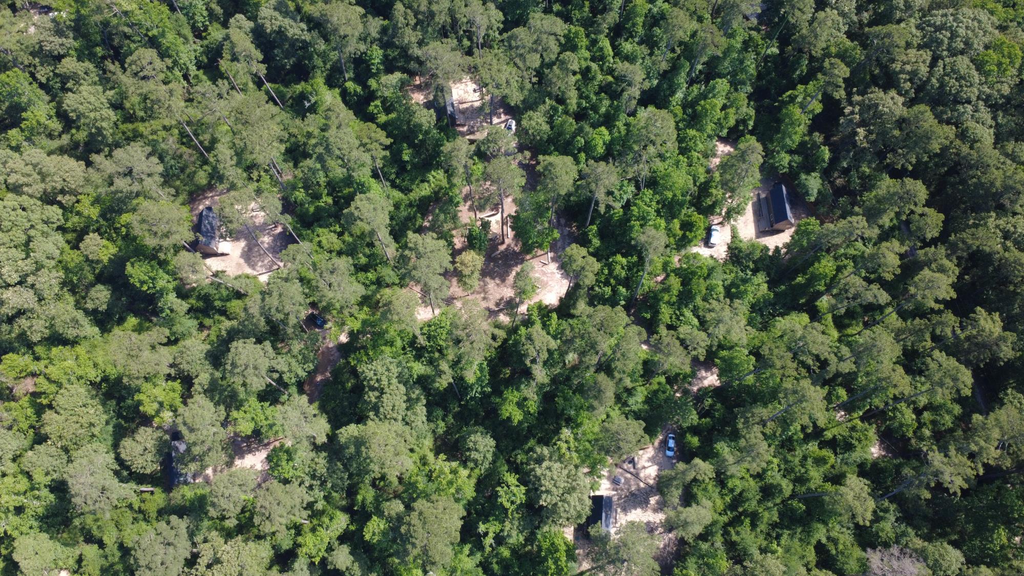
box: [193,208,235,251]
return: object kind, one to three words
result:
building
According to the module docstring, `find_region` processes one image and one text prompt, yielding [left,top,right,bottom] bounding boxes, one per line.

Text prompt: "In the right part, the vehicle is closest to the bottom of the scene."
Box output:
[664,431,677,459]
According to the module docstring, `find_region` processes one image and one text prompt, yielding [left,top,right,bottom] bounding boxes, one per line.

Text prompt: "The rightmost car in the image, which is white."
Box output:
[707,225,721,248]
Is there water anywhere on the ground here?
No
